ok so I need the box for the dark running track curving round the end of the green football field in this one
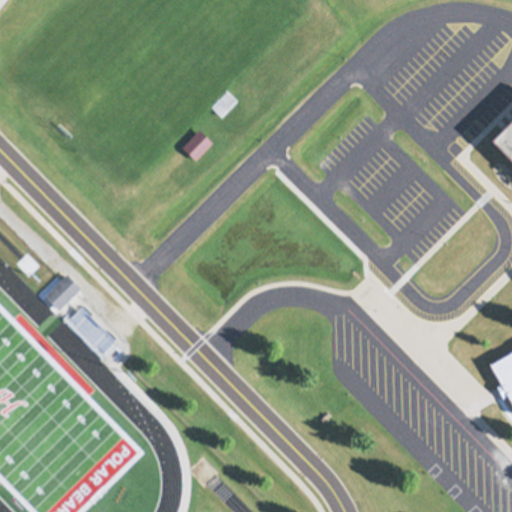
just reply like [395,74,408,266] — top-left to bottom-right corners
[0,255,182,512]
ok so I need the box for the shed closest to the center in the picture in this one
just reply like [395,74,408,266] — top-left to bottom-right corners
[184,131,213,162]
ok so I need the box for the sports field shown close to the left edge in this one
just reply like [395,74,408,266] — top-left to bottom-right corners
[0,286,160,512]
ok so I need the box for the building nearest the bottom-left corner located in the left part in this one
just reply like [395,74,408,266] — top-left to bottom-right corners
[38,275,80,310]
